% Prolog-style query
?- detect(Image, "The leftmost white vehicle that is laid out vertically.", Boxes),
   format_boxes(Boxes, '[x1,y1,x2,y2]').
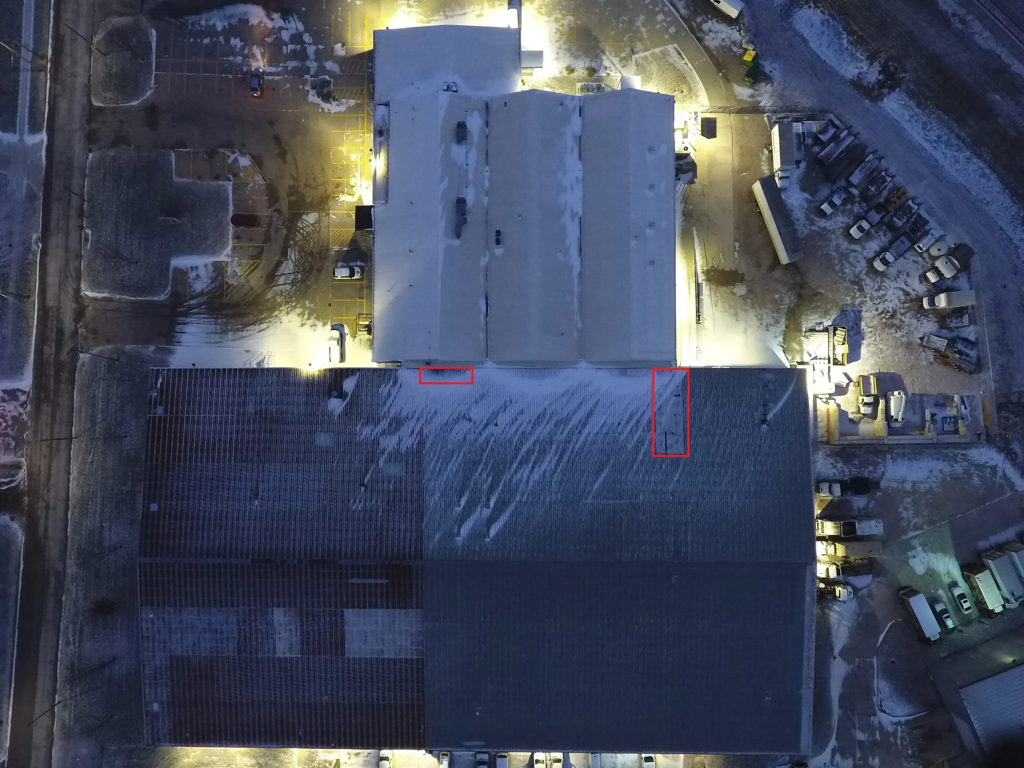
[329,329,343,363]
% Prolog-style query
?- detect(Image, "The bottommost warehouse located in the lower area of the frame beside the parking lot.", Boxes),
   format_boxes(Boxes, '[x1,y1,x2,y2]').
[137,366,817,757]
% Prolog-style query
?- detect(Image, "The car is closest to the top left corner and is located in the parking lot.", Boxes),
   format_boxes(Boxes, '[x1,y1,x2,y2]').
[248,69,263,99]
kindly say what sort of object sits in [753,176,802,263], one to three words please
trailer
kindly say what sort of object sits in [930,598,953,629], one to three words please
car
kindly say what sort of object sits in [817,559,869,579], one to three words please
vehicle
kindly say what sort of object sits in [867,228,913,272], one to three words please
truck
